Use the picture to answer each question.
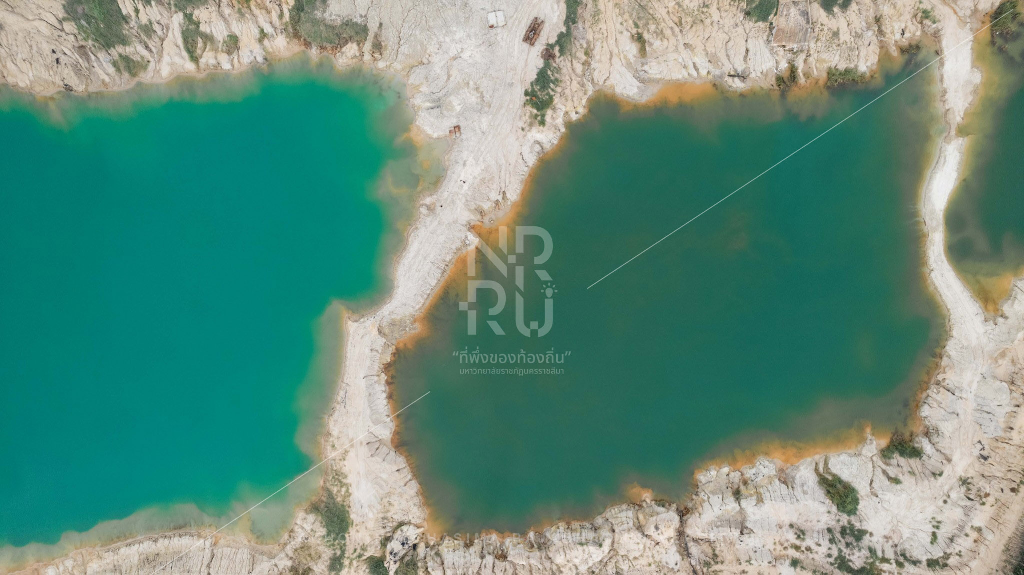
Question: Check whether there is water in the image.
Yes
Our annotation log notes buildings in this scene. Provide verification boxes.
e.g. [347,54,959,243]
[487,9,507,28]
[772,0,812,52]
